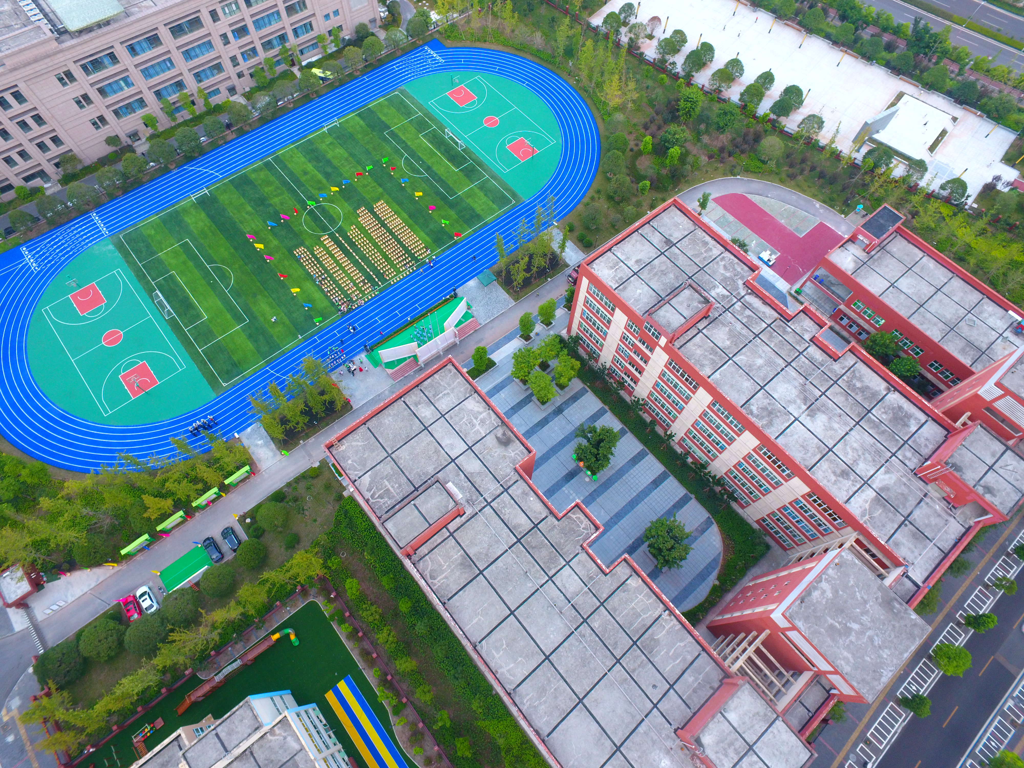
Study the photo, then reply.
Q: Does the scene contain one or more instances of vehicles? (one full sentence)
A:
Yes, I can see a vehicle in this picture.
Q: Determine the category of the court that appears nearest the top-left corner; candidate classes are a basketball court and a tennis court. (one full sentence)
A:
Specifically, the court that appears nearest the top-left corner is a basketball court.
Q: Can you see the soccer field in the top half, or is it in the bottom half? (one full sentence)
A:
It is in the top half that the soccer field appears.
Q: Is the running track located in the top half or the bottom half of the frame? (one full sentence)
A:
Seen from above, the running track lies in the top half of the view.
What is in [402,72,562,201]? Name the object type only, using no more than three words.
basketball court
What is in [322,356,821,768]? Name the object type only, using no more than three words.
building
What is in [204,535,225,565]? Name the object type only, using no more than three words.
car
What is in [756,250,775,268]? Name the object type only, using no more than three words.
vehicle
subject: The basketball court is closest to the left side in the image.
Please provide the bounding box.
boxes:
[28,237,216,423]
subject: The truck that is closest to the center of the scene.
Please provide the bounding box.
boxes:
[562,259,584,283]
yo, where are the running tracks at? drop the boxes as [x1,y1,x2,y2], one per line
[0,39,600,471]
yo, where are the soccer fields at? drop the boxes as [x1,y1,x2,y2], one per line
[107,86,526,396]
